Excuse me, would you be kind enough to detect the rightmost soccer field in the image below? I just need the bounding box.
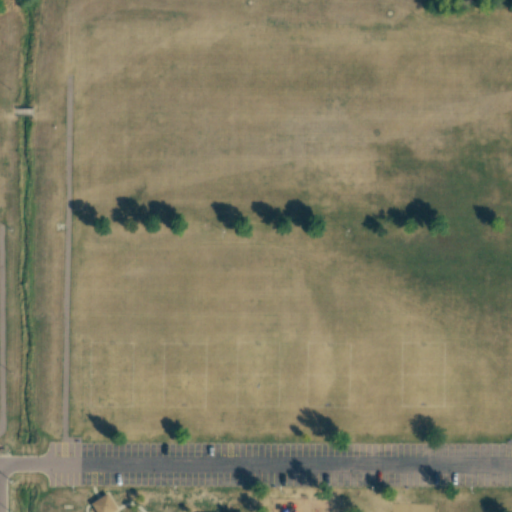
[402,344,446,406]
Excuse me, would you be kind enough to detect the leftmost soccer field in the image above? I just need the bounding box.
[91,344,134,406]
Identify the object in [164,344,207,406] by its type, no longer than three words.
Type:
soccer field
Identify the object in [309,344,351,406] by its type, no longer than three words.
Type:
soccer field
